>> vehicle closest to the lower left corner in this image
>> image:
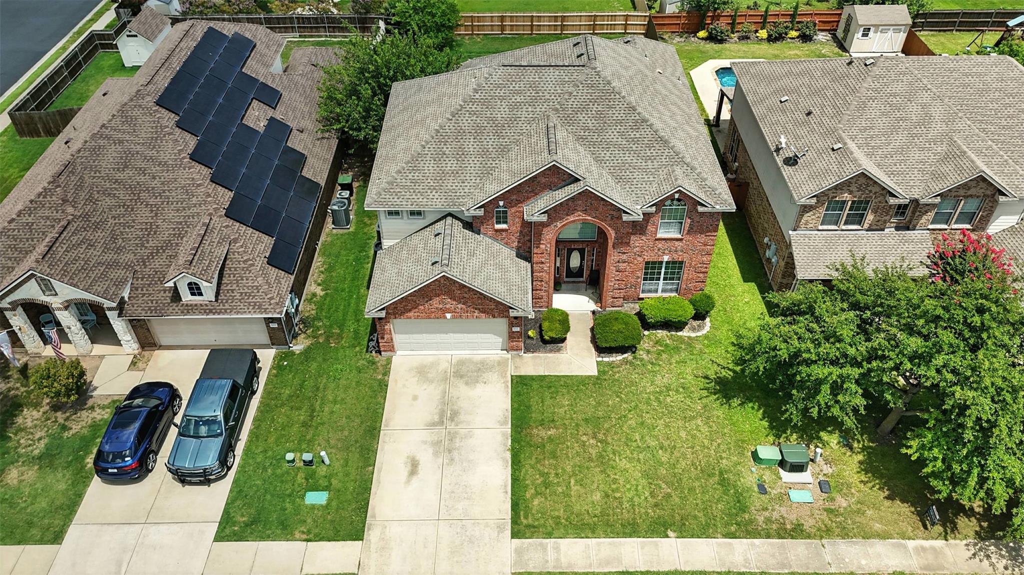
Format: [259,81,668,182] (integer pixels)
[92,382,180,482]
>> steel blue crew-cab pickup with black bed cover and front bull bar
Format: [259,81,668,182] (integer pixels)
[164,345,256,484]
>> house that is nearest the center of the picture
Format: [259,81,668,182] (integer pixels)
[363,34,738,359]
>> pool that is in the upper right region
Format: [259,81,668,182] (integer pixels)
[689,58,822,149]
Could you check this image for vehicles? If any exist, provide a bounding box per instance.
[92,382,180,482]
[164,345,256,484]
